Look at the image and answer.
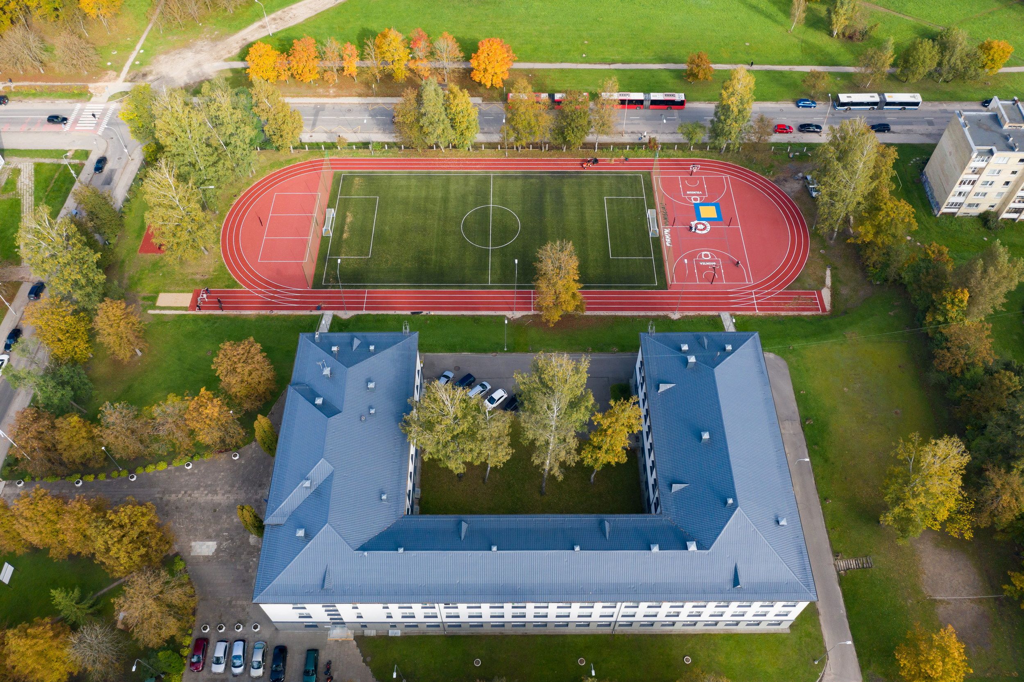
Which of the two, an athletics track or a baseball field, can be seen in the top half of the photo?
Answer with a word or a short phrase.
athletics track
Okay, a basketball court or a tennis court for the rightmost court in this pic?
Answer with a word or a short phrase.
basketball court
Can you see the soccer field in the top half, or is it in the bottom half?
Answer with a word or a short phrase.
top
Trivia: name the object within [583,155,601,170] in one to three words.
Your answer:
work vehicle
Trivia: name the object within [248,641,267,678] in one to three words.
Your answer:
car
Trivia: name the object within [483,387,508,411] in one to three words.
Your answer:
car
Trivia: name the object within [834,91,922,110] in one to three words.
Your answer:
vehicle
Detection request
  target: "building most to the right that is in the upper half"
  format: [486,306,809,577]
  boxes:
[920,94,1024,217]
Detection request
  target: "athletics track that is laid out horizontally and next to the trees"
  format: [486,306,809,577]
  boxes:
[189,158,828,312]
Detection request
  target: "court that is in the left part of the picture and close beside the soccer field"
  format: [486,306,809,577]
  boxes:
[240,170,334,289]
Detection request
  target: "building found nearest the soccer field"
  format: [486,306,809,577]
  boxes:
[248,324,819,651]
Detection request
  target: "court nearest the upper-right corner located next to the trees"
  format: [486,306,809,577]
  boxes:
[651,171,790,290]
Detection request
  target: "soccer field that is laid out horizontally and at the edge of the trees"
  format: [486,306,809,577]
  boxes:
[311,170,668,290]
